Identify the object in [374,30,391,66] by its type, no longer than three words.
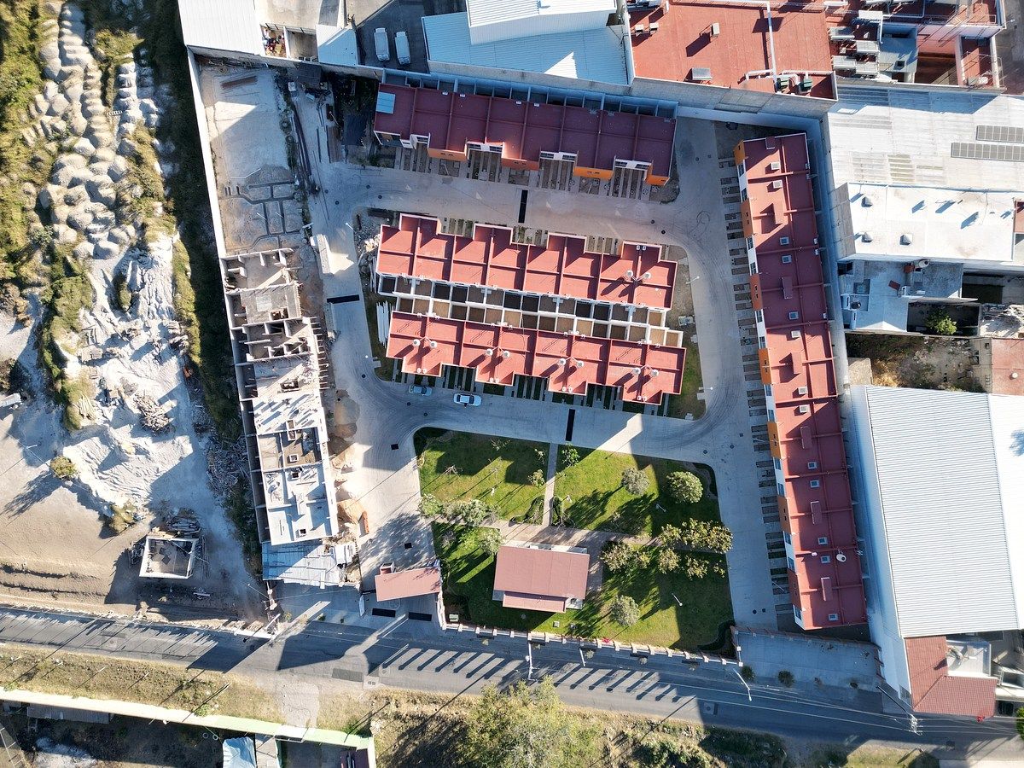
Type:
vehicle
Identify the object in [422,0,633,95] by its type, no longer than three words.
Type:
building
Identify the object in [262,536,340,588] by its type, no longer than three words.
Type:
shed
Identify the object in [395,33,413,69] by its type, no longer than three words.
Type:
vehicle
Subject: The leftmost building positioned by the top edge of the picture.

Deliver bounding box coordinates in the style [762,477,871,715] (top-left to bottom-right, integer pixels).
[183,0,272,57]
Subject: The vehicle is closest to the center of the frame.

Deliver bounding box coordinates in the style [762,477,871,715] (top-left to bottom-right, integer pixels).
[454,393,482,406]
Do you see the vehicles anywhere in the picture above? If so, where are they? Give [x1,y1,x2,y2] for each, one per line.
[395,33,413,69]
[409,384,433,397]
[998,698,1016,720]
[374,30,391,66]
[454,393,482,406]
